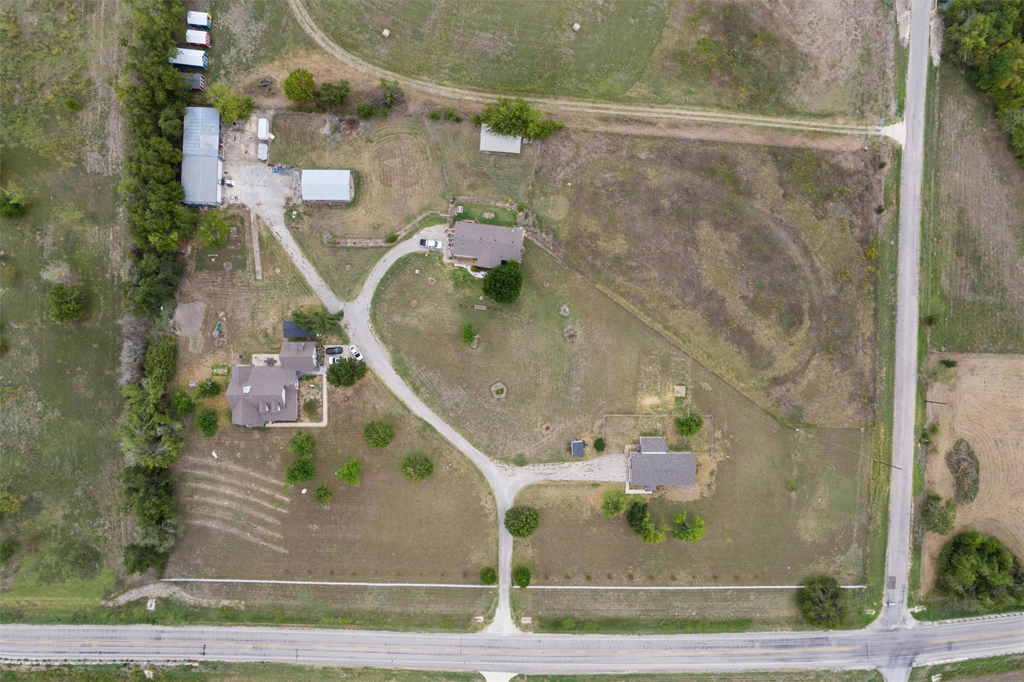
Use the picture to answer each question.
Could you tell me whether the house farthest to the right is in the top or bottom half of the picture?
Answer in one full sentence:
The house farthest to the right is in the bottom half of the image.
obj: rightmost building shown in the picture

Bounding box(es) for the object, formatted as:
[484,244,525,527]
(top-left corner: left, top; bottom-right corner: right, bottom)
[627,437,697,491]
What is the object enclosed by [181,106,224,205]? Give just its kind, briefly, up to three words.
building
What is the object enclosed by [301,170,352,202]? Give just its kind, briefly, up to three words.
barn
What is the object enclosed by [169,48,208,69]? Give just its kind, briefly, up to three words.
shed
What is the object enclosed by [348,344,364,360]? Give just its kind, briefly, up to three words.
car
